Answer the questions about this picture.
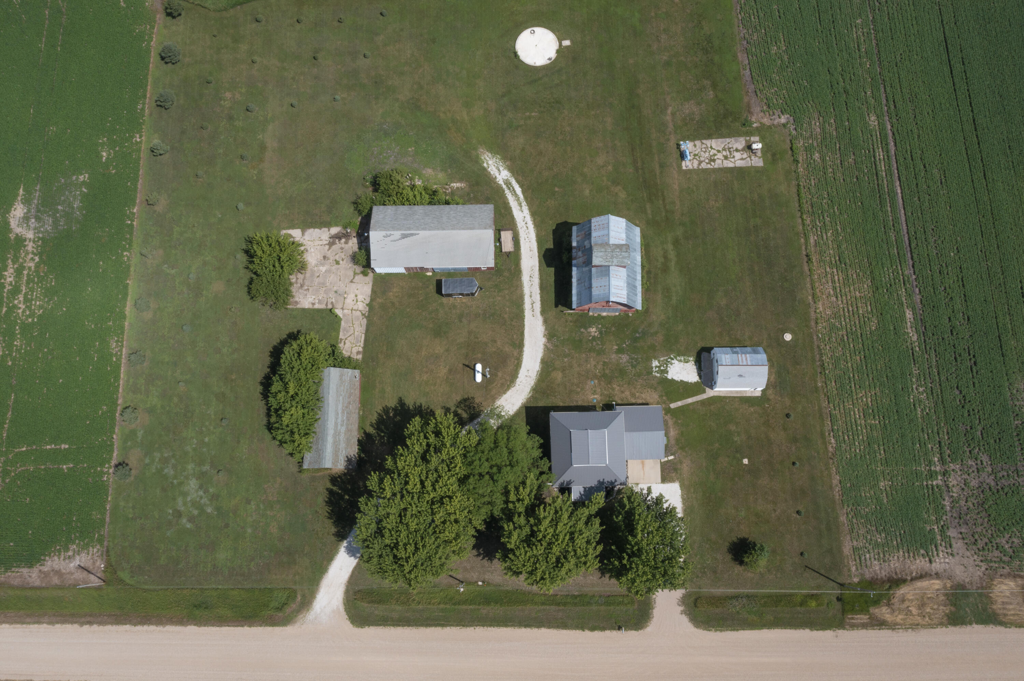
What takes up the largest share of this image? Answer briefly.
grass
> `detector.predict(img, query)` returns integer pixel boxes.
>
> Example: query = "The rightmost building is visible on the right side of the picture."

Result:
[711,347,768,390]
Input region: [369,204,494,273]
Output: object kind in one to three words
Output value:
shed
